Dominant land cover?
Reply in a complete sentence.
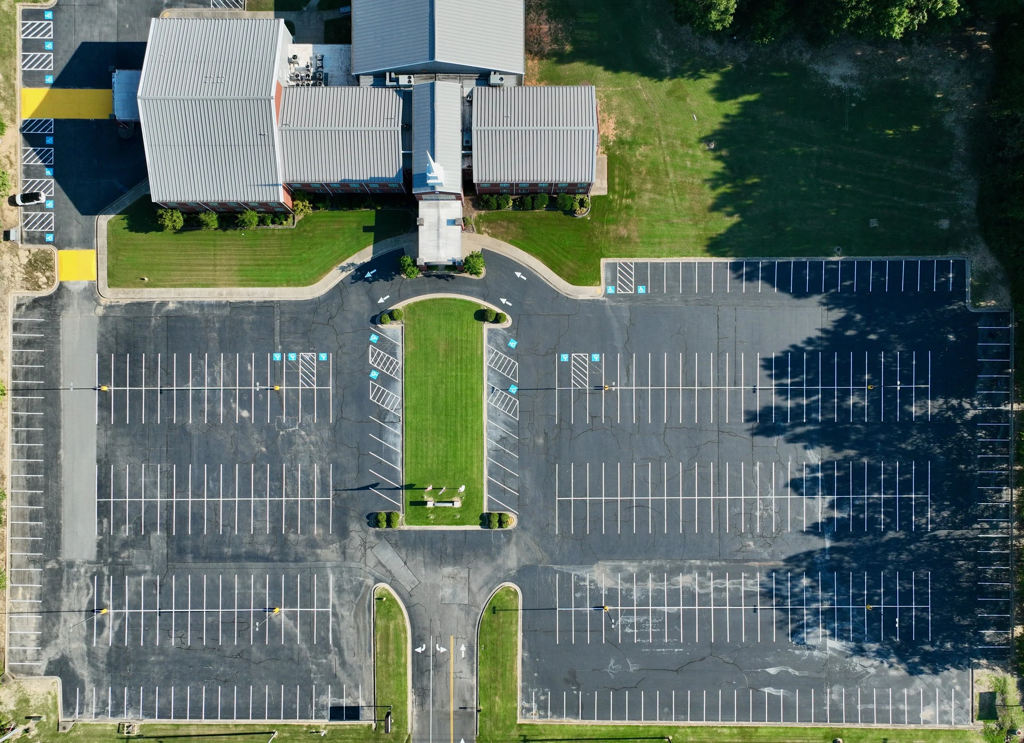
Most of the picture is covered by paved ground.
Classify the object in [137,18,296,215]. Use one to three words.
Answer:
building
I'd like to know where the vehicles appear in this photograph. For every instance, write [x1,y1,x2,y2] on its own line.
[17,192,46,207]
